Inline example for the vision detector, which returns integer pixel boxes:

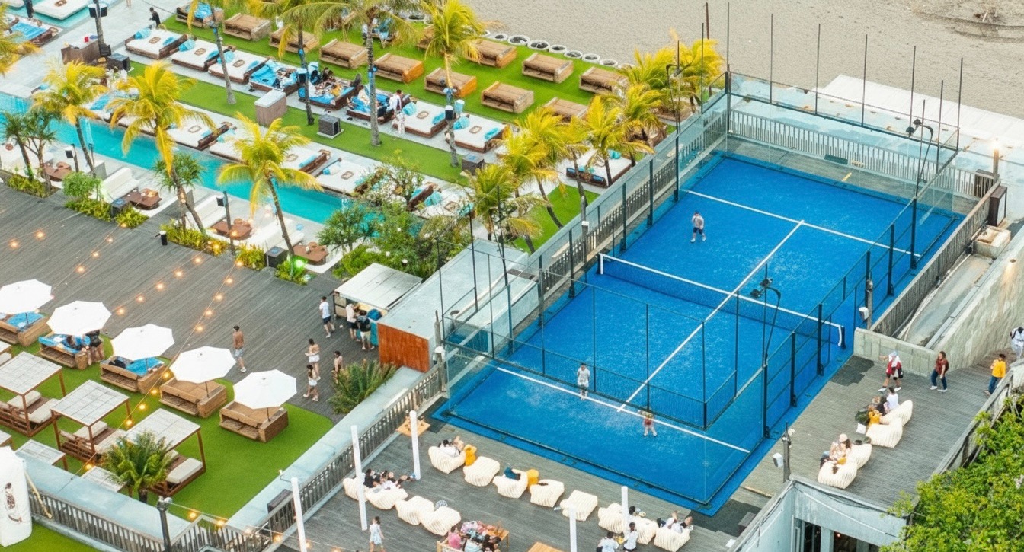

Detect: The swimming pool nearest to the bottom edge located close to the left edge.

[0,99,408,252]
